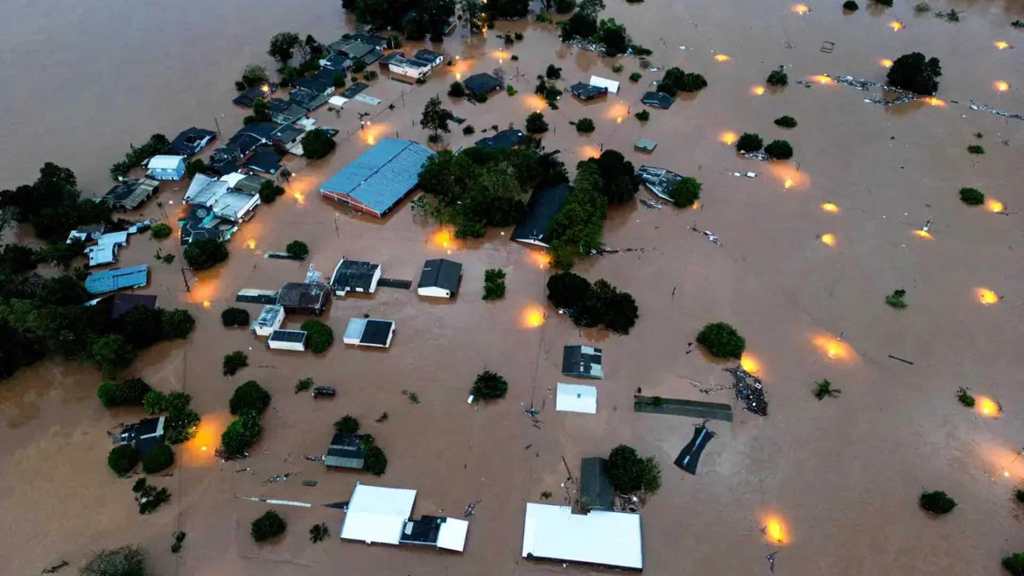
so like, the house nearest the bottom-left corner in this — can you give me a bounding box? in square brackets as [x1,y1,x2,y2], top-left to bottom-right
[107,417,166,464]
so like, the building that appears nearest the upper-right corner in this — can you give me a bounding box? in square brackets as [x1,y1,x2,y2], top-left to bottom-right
[641,91,675,112]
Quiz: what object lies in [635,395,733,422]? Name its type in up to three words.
shed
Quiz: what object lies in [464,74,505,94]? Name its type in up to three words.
house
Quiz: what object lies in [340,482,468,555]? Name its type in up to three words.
building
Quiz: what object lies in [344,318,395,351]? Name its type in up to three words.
house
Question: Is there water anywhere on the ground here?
Yes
